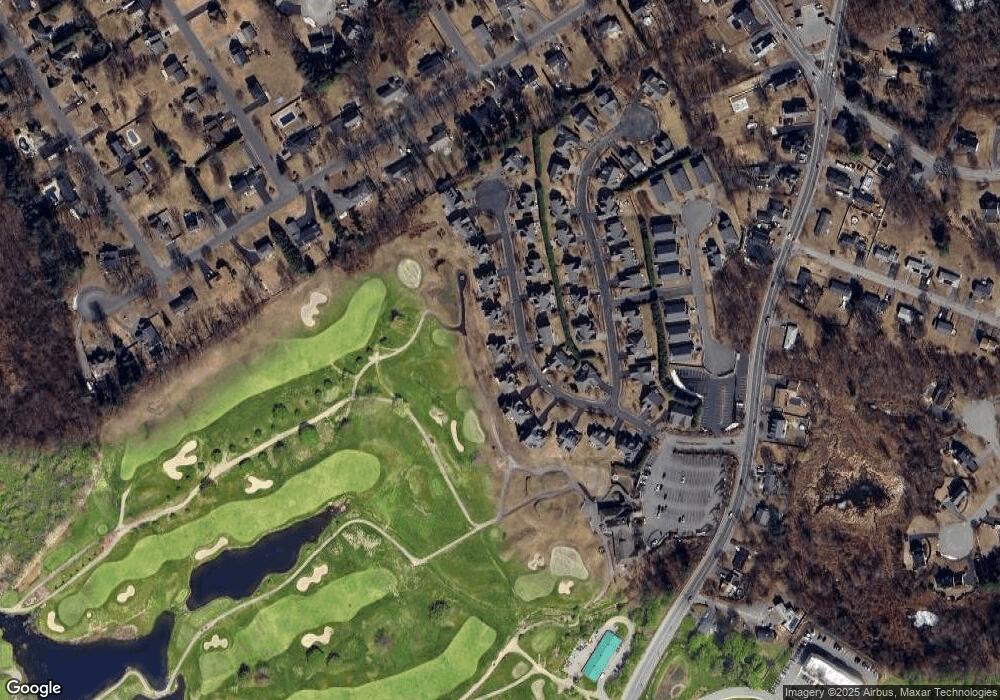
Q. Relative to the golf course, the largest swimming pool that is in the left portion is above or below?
above it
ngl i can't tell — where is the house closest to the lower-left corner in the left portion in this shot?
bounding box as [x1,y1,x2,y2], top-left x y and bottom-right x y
[89,350,119,369]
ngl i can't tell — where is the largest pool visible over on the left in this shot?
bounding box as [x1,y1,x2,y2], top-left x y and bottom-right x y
[273,105,301,131]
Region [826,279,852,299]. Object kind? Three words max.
house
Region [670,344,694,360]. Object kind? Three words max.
house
